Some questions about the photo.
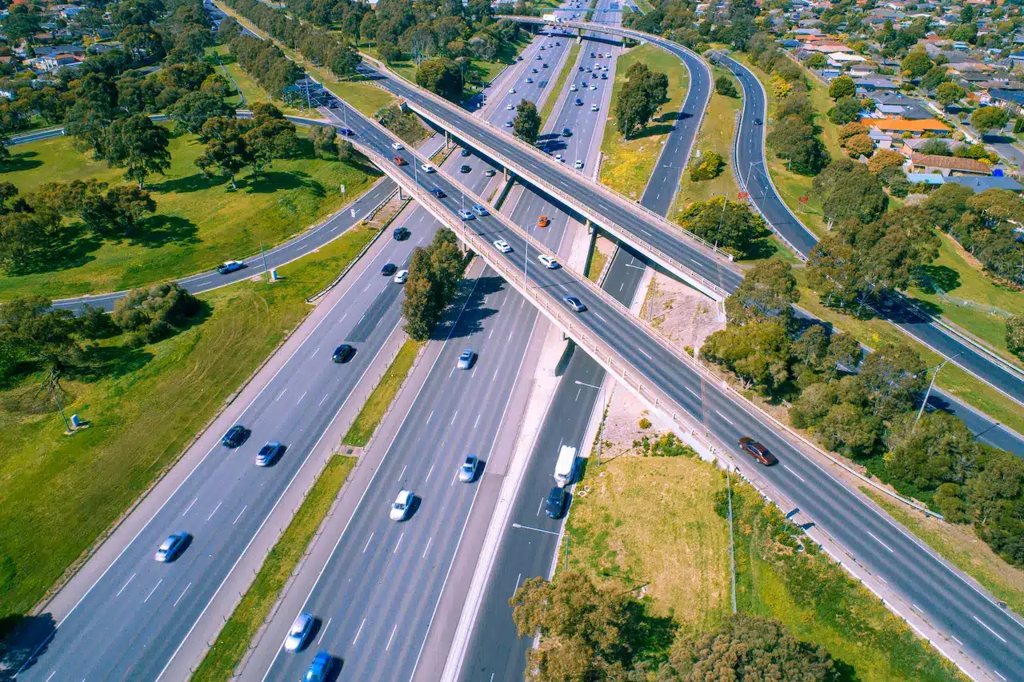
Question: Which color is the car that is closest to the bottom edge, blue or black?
blue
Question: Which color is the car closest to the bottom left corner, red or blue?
blue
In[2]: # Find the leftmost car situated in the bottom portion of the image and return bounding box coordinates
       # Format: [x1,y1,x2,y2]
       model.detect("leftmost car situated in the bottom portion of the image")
[152,532,189,566]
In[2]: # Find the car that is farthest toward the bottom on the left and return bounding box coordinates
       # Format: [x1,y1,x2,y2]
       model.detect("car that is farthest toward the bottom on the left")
[303,648,335,682]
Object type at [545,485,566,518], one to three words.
car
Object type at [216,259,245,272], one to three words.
vehicle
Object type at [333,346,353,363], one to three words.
car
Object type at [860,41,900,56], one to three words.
house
